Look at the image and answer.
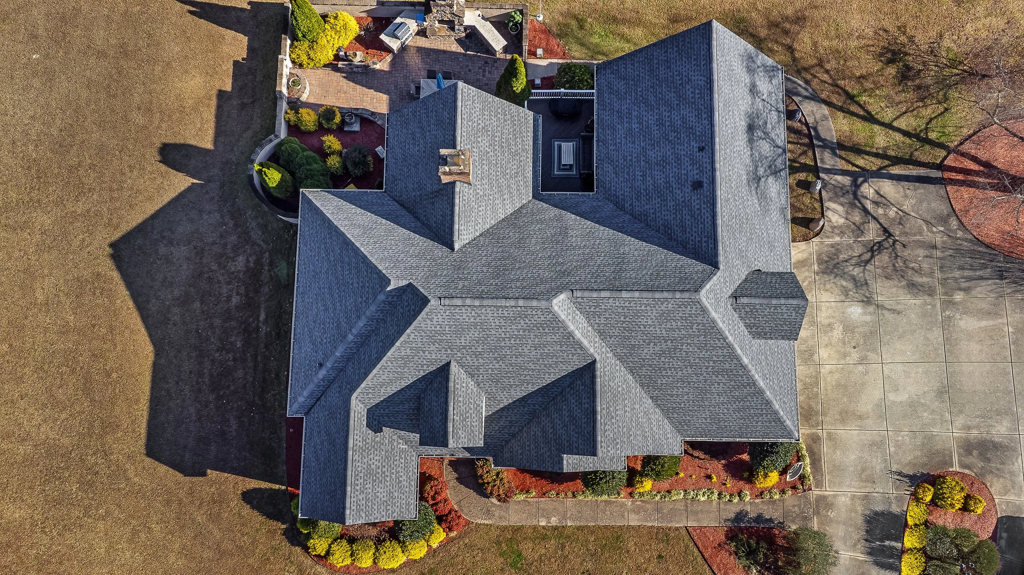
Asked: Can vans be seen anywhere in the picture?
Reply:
No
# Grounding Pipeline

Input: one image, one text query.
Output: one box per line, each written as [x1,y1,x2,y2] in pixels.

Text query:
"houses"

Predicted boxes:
[287,19,809,527]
